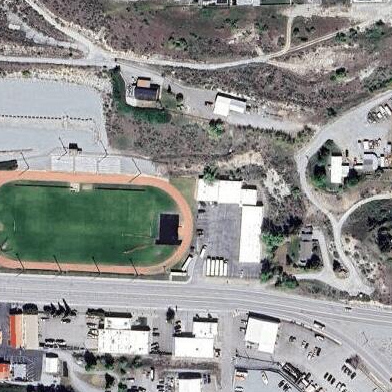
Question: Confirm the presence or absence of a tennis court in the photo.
No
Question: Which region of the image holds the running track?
left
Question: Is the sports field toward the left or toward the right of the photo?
left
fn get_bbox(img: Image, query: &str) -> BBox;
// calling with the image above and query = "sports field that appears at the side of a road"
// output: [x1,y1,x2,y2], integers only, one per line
[0,181,184,265]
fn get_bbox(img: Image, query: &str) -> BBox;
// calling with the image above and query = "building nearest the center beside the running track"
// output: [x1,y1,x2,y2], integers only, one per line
[196,178,221,202]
